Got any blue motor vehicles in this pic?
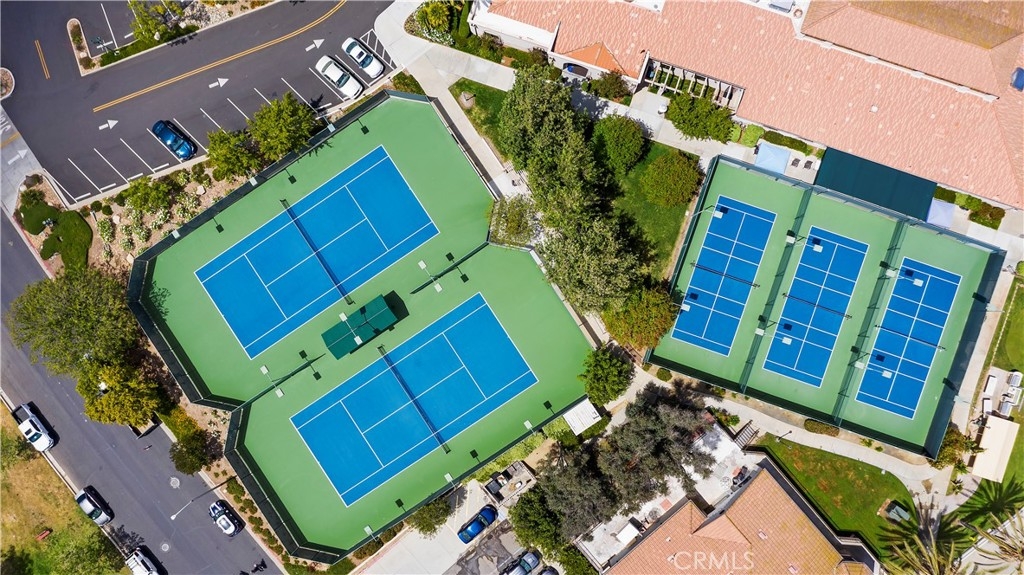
Yes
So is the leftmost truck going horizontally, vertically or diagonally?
diagonally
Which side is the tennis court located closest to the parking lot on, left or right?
left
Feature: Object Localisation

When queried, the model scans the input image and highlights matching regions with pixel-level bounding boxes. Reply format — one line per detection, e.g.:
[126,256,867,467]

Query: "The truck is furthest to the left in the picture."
[9,400,56,453]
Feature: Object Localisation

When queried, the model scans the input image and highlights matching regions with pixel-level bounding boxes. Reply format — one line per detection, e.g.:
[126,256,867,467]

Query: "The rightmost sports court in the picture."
[821,223,984,451]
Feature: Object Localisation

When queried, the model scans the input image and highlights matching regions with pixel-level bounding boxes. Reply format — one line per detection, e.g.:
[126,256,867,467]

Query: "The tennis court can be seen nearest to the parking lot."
[144,99,495,406]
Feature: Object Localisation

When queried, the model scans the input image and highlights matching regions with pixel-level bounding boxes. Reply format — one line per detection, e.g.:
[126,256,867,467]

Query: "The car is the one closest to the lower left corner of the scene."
[75,486,114,526]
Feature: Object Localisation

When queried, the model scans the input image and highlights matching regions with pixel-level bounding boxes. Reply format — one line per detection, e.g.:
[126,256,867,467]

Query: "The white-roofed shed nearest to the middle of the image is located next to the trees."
[563,398,601,436]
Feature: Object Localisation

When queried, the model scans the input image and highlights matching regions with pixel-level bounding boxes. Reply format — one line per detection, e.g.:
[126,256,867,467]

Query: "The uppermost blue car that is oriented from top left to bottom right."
[152,119,196,162]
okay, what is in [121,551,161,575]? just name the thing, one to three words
vehicle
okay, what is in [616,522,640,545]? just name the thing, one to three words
umbrella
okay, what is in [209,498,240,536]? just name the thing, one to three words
car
